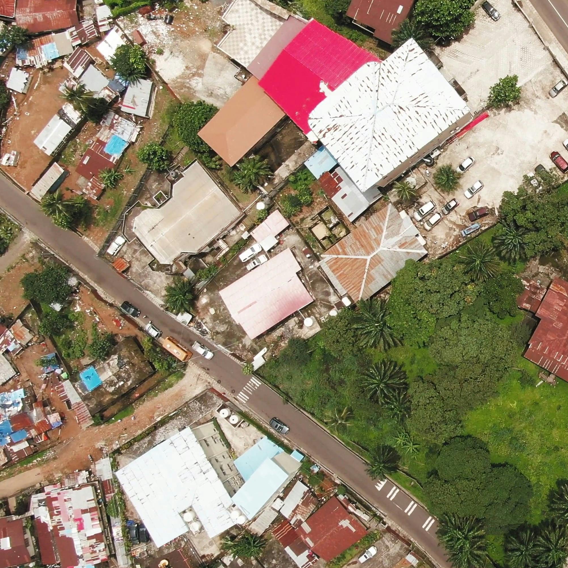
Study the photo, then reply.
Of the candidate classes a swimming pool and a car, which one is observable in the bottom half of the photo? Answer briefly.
car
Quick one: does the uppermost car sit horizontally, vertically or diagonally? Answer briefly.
diagonally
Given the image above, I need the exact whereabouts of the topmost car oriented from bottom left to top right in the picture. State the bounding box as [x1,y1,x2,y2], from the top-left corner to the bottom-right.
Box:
[548,77,568,99]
